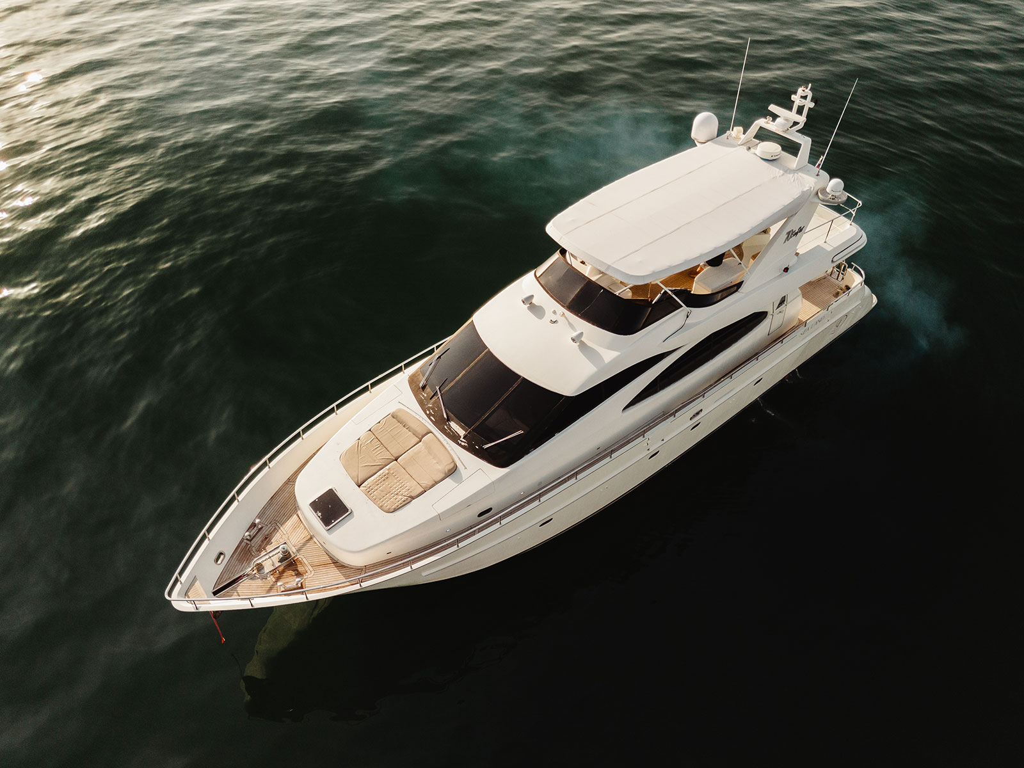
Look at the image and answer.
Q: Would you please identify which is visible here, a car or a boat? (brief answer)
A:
boat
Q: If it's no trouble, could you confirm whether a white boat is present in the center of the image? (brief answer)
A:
Yes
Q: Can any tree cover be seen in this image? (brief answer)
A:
No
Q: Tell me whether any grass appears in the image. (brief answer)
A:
No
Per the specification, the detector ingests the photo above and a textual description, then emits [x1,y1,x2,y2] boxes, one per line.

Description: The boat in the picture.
[165,38,872,620]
